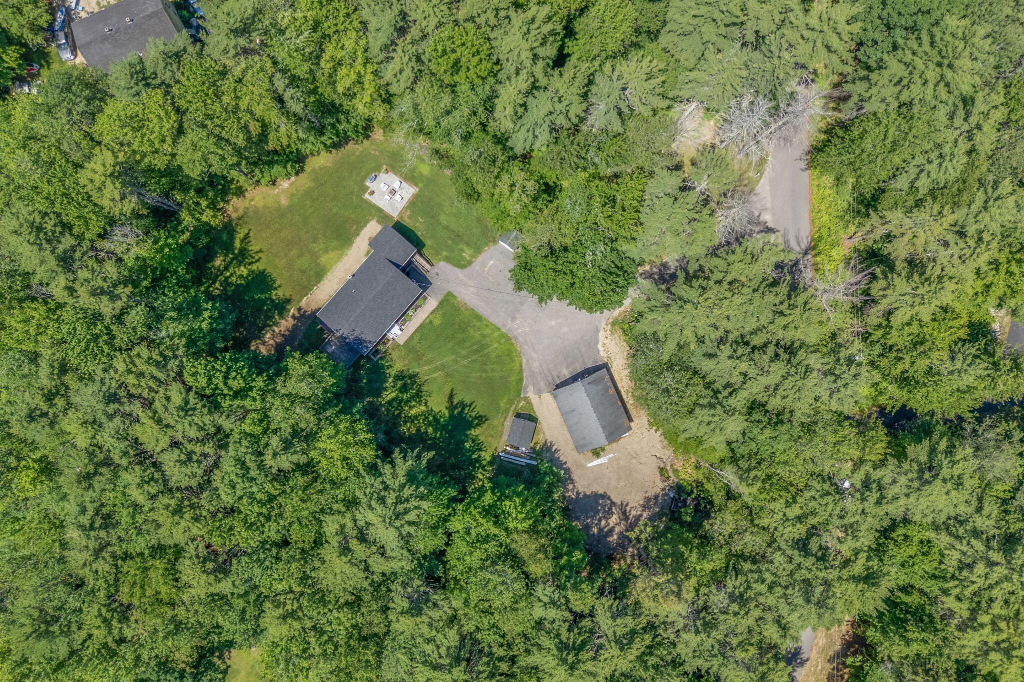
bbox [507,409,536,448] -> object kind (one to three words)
shed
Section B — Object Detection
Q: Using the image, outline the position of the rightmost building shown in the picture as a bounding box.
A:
[553,368,632,453]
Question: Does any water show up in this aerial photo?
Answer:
No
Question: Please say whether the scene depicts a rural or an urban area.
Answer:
rural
